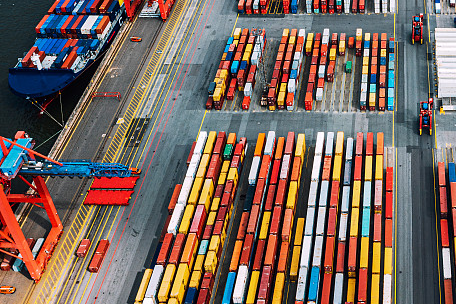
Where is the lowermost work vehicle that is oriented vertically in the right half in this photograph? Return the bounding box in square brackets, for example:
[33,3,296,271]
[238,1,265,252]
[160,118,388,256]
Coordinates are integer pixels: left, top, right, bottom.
[419,95,435,134]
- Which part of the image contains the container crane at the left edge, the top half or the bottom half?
bottom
